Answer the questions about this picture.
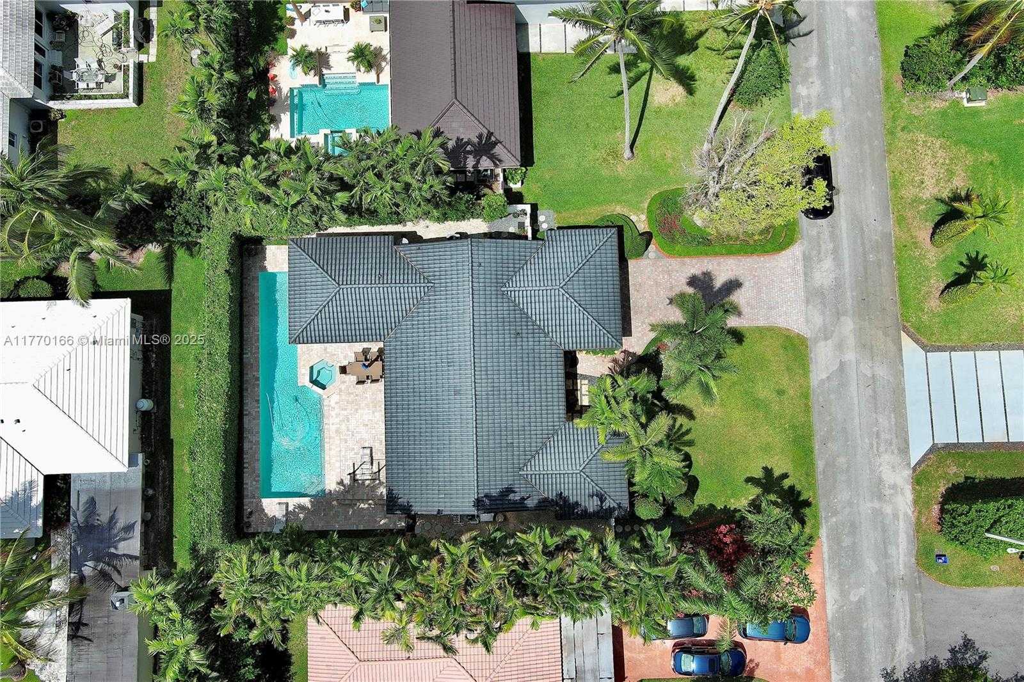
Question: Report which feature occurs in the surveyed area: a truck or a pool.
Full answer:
There is a pool in the scene.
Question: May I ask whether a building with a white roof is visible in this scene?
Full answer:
Yes, the image includes a building with a white roof.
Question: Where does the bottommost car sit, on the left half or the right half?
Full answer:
The bottommost car is on the right side of the image.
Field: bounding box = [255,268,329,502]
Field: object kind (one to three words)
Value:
swimming pool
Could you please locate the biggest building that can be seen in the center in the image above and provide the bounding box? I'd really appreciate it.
[286,226,632,520]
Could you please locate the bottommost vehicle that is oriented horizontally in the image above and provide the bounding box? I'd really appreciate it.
[671,643,748,680]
